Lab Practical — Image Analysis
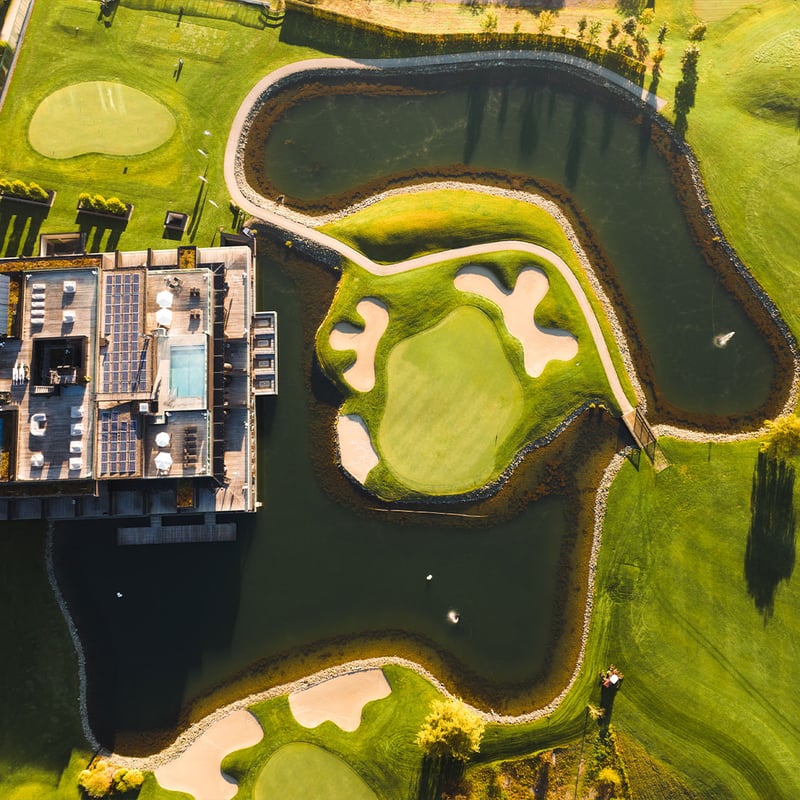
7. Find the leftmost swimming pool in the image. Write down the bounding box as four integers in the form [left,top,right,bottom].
[149,336,211,427]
